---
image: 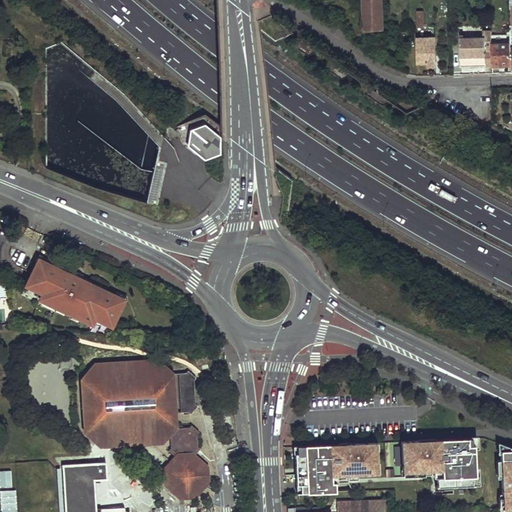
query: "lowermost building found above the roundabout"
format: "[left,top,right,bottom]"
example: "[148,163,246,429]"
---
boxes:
[188,126,222,161]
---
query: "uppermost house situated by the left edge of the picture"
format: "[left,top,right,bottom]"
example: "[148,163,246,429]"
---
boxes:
[22,258,127,330]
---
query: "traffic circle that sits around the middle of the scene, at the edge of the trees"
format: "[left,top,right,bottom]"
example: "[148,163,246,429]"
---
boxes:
[205,236,321,353]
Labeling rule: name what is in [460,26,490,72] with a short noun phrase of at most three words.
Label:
house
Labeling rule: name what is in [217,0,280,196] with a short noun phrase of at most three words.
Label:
bridge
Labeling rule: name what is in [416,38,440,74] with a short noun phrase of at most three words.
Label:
house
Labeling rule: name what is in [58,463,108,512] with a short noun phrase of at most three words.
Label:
building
